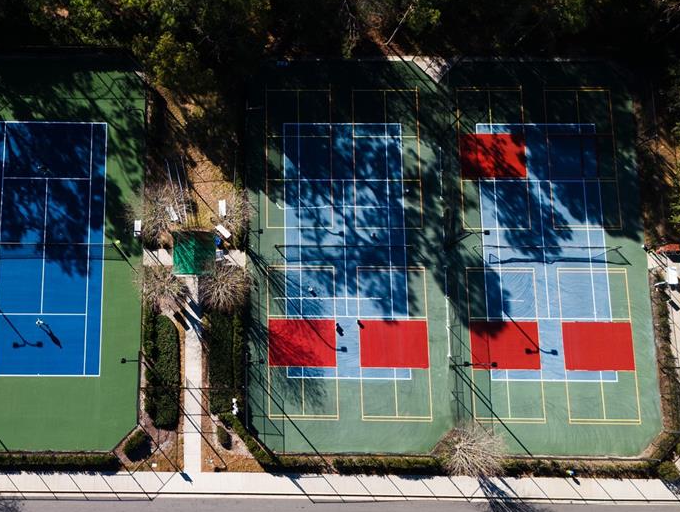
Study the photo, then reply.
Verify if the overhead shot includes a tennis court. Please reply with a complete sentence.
Yes, the image includes a tennis court.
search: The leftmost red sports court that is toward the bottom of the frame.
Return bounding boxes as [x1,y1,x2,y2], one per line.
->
[268,263,339,422]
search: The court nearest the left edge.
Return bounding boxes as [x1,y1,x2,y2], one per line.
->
[0,63,147,453]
